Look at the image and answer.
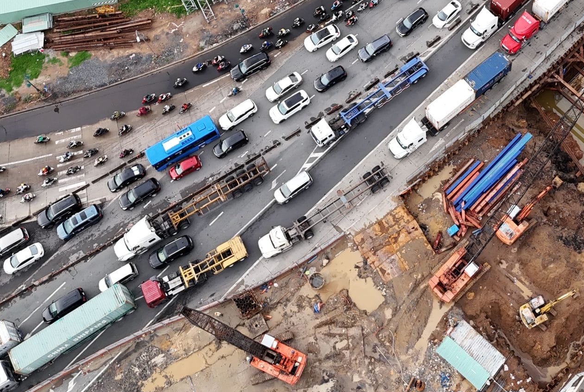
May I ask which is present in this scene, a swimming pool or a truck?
truck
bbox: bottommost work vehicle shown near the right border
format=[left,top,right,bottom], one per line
[511,288,581,333]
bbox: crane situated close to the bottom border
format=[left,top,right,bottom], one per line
[179,305,319,392]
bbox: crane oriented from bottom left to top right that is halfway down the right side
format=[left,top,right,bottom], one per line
[426,94,584,312]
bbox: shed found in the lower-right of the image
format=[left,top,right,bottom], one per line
[430,320,506,390]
